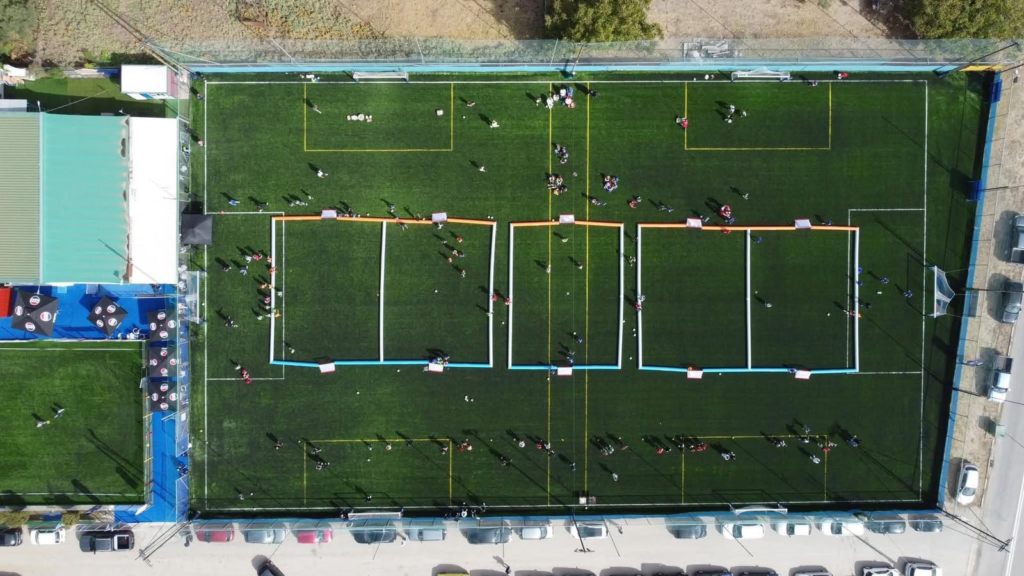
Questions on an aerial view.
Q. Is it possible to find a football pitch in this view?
Yes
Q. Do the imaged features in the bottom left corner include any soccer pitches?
Yes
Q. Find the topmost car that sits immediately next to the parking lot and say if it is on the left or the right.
right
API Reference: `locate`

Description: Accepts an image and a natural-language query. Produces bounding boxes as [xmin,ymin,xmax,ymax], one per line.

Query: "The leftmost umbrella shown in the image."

[11,288,62,337]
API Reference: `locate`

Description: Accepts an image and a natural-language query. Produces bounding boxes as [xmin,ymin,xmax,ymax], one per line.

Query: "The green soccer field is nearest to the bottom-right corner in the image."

[190,71,993,519]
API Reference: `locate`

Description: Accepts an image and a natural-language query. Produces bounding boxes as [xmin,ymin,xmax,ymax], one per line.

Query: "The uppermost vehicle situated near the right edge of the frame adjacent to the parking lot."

[953,460,979,504]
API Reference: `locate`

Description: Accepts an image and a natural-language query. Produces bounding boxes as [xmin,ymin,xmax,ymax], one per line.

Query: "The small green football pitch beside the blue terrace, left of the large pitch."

[0,341,152,506]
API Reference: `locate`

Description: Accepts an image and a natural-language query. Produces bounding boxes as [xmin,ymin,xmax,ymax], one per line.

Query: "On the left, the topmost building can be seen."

[122,65,180,99]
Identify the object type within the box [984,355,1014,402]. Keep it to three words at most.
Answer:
truck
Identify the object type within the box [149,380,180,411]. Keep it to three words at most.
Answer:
umbrella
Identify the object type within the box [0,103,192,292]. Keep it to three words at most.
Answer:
building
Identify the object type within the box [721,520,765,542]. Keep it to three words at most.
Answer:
car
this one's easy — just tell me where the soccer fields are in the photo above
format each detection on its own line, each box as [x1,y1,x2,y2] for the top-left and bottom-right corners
[0,341,152,506]
[190,71,993,519]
